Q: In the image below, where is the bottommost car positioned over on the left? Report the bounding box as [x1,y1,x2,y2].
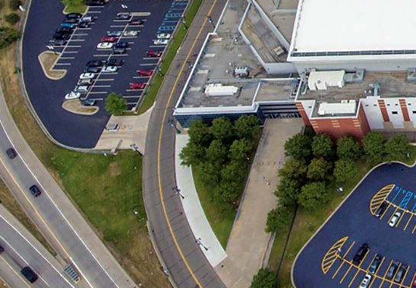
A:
[19,266,36,283]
